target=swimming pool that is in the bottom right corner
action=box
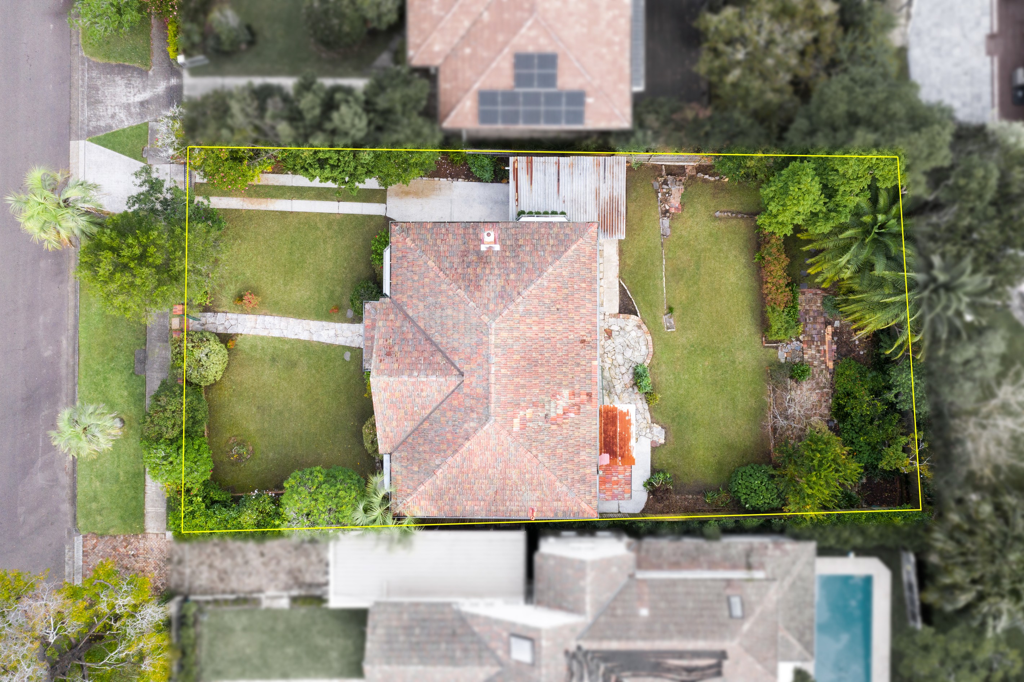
[818,576,872,682]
